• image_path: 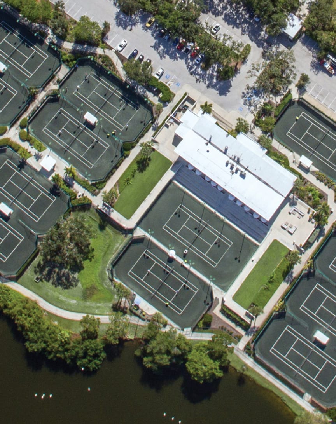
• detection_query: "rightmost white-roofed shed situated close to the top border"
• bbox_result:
[282,13,303,41]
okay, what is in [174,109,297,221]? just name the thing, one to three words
building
